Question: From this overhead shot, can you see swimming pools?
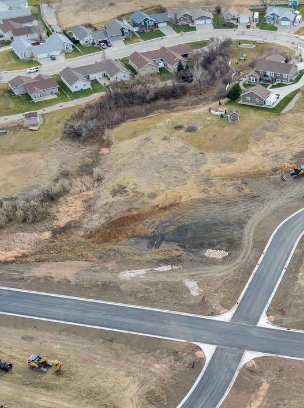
No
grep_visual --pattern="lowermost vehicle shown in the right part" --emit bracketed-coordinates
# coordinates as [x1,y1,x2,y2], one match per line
[280,165,304,179]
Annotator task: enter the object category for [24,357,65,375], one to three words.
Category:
work vehicle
